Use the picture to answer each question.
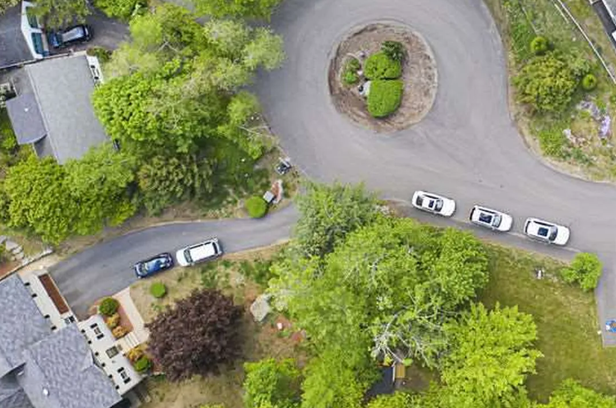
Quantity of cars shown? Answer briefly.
6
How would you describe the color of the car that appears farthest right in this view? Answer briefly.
white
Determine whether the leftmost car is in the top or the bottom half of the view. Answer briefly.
top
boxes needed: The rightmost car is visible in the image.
[522,216,572,247]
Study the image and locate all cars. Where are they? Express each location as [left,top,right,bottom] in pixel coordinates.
[134,253,176,278]
[409,189,458,219]
[51,23,100,48]
[179,235,228,266]
[522,216,572,247]
[466,203,515,233]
